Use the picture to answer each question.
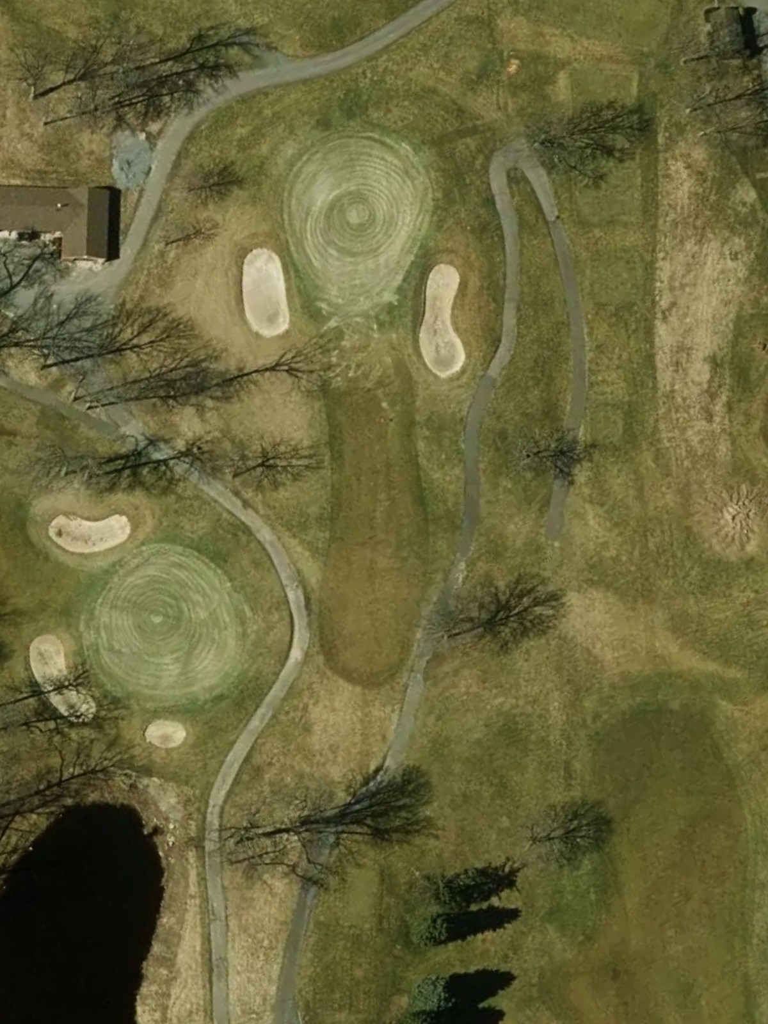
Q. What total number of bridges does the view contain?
zero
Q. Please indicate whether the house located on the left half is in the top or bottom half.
top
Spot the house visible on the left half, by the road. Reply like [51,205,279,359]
[0,184,109,259]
